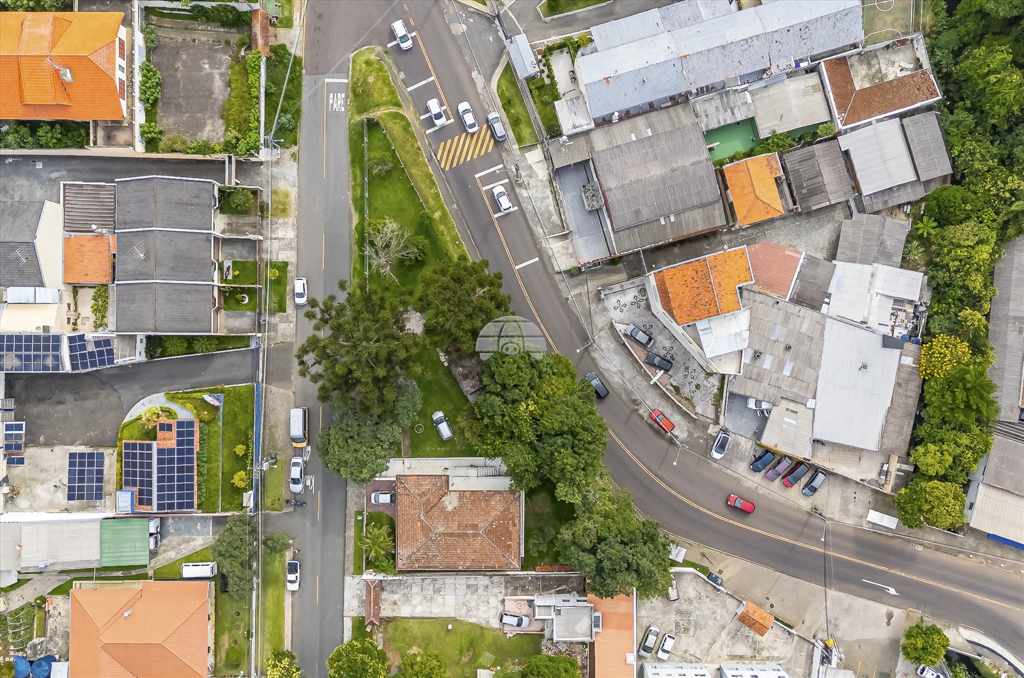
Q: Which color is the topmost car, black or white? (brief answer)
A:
white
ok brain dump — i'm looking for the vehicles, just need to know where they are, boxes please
[640,626,660,657]
[500,611,530,629]
[585,372,611,399]
[150,535,161,547]
[492,184,514,215]
[432,410,453,441]
[225,265,231,278]
[371,491,396,505]
[782,463,811,489]
[458,102,480,133]
[645,352,675,374]
[291,408,308,445]
[656,633,676,661]
[766,456,792,481]
[290,459,305,490]
[728,494,756,514]
[625,324,655,349]
[487,111,507,141]
[392,21,412,49]
[711,430,730,458]
[746,399,770,414]
[750,450,776,474]
[426,99,446,127]
[293,277,308,307]
[180,562,217,579]
[650,409,676,434]
[802,469,829,496]
[285,559,301,592]
[667,573,681,601]
[150,519,163,532]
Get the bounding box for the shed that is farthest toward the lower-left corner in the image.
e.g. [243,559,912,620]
[27,634,46,660]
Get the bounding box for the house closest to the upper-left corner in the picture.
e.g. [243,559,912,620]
[0,11,133,126]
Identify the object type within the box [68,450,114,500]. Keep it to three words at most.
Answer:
solar array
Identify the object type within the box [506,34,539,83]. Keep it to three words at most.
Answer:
building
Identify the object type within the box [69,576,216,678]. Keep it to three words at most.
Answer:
house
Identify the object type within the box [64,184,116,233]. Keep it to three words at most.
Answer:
shed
